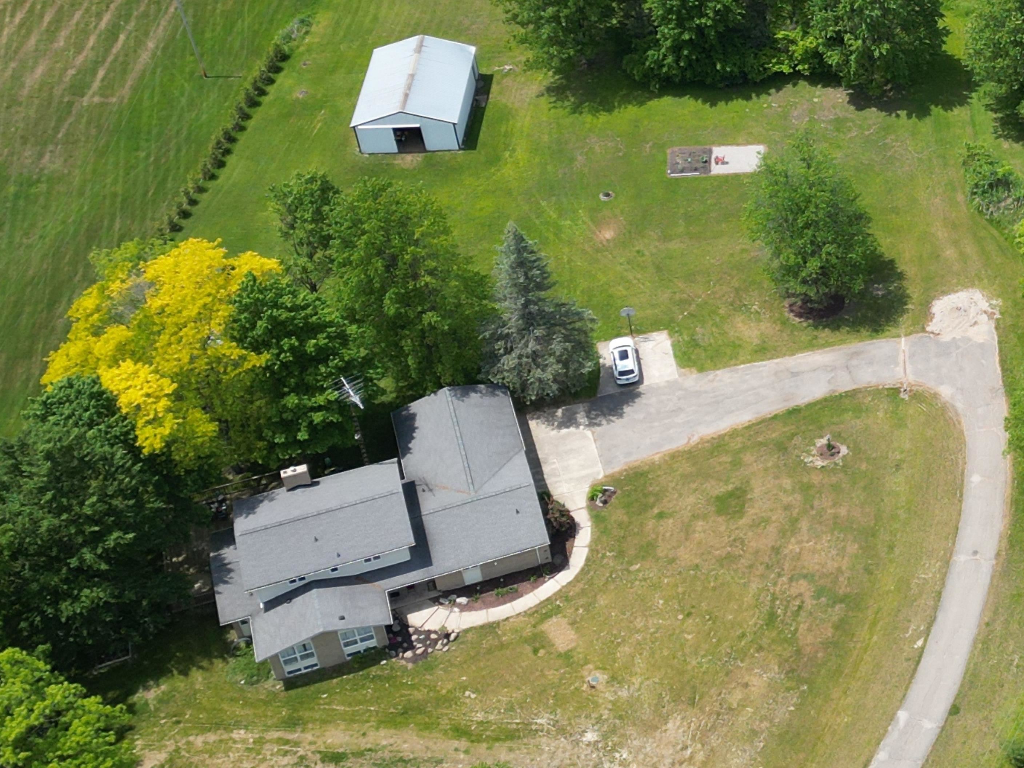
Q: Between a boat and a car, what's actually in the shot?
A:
car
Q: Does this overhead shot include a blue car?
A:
No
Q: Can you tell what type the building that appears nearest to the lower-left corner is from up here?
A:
home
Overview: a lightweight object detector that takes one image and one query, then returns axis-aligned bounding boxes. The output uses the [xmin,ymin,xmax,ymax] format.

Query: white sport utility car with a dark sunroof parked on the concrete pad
[608,334,641,383]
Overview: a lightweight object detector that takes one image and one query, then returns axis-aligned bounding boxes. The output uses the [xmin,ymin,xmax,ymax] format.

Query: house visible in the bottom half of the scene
[210,384,550,678]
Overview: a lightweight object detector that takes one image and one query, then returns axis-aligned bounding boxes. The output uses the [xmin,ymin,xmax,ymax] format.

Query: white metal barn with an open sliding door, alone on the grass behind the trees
[350,35,476,153]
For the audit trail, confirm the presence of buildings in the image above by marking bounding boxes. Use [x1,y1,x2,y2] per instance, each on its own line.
[210,384,550,678]
[350,35,476,153]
